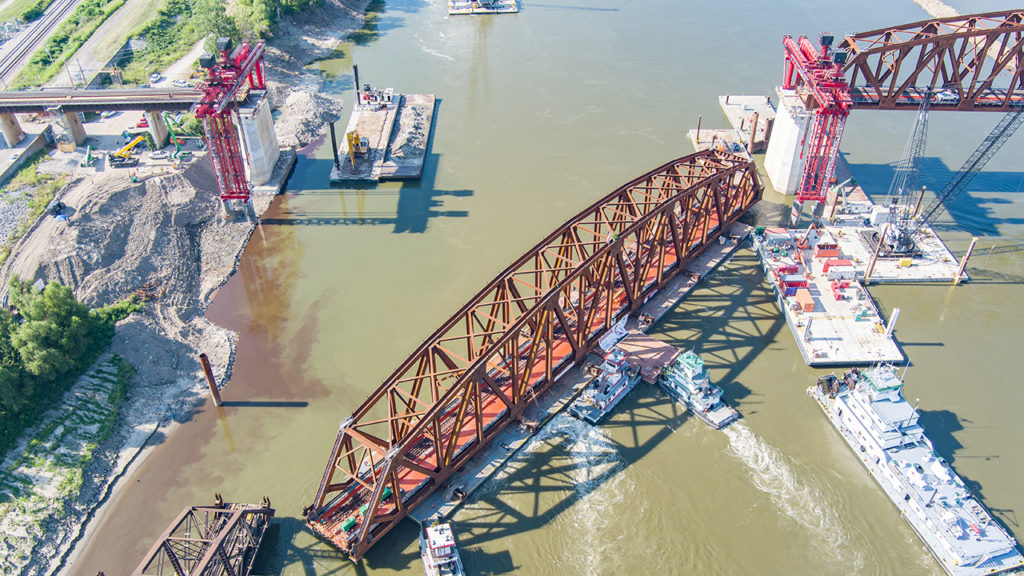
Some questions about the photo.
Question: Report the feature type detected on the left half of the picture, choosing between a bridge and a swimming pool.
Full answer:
There is a bridge on the left half of the picture.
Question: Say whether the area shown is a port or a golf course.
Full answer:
It's a port.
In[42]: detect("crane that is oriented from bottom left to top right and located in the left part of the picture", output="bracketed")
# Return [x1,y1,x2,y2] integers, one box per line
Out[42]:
[100,125,150,167]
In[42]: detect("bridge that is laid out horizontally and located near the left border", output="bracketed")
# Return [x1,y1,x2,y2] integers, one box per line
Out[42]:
[0,80,238,150]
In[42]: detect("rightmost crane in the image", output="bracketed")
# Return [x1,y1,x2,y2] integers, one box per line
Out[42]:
[854,48,1024,257]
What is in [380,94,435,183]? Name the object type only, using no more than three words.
ship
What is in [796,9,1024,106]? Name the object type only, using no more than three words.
bridge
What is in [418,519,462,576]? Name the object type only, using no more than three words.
boat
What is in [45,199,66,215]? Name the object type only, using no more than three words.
vehicle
